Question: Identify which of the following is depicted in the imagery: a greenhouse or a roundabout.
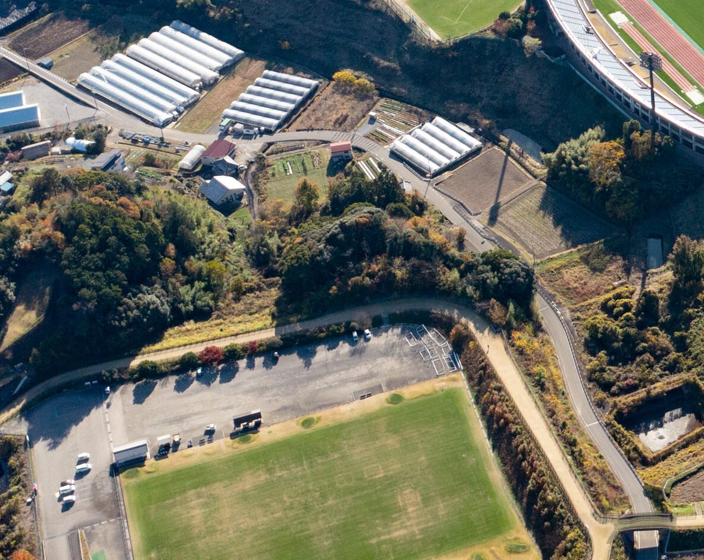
greenhouse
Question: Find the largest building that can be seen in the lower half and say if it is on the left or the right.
left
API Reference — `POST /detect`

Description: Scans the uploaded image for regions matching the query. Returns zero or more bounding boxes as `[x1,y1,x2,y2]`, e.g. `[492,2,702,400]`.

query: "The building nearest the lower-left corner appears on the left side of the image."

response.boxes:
[112,443,148,472]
